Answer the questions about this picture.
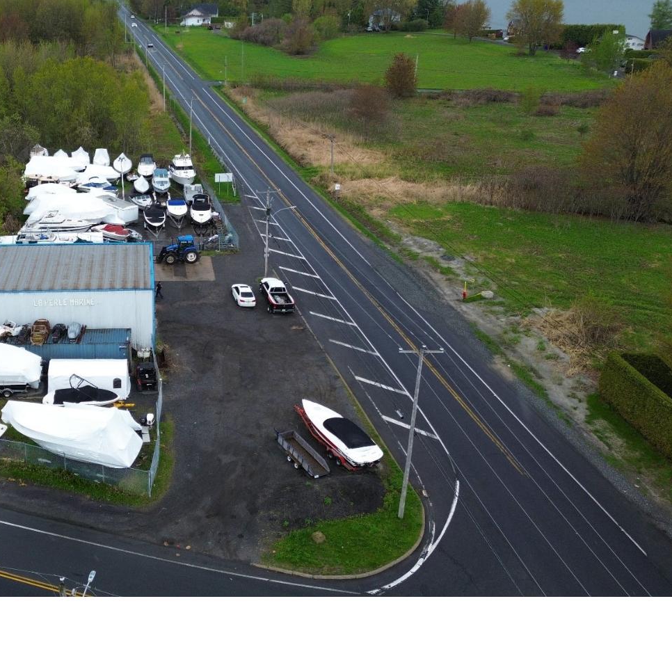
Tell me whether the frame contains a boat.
Yes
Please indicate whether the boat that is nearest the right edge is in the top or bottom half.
bottom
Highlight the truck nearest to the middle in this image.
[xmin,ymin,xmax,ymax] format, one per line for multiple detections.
[261,282,297,315]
